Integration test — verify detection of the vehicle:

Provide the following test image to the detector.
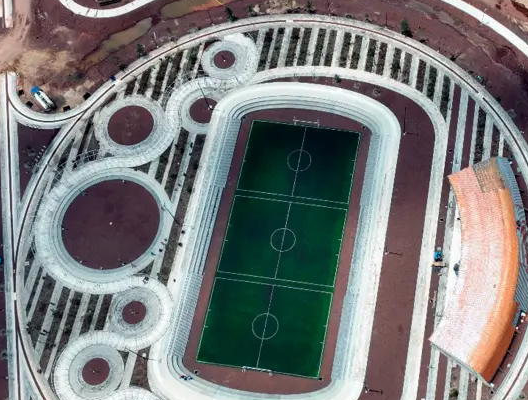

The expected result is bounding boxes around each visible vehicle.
[26,80,55,111]
[433,244,443,260]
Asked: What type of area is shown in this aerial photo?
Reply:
sports ground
